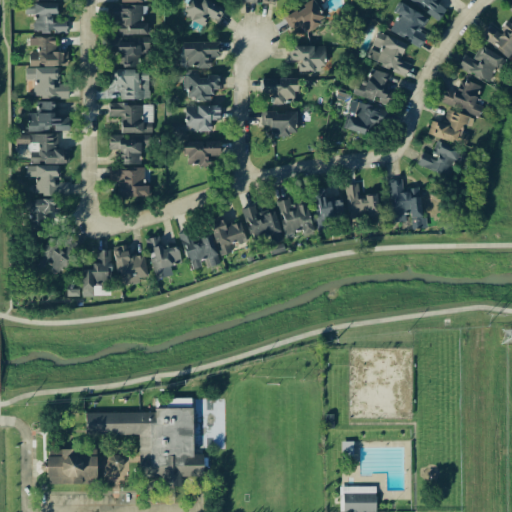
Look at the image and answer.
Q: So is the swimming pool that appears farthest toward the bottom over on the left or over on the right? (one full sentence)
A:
The swimming pool that appears farthest toward the bottom sits on the right side.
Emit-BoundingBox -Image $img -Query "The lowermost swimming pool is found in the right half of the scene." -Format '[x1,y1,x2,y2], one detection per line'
[342,438,411,498]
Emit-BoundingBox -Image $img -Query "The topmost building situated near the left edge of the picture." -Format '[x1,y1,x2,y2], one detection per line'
[25,4,68,34]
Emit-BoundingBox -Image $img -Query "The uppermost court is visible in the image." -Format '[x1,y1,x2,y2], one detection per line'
[349,346,412,418]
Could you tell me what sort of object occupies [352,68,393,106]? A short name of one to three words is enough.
house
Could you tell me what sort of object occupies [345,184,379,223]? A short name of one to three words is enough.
house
